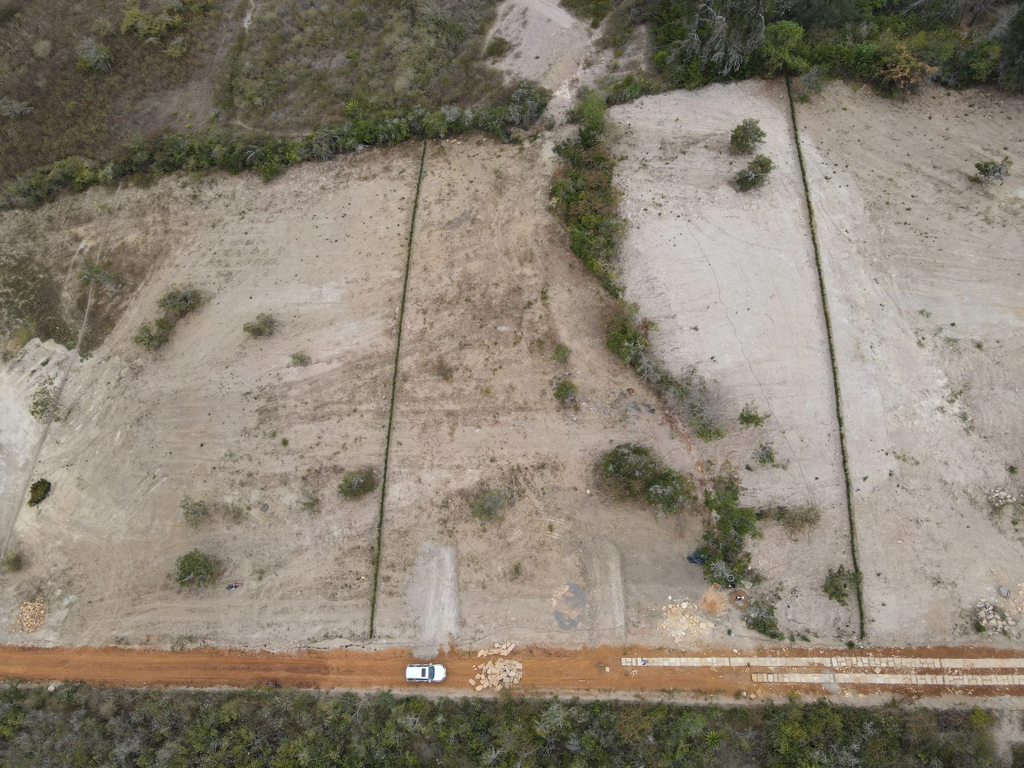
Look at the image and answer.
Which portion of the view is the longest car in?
bottom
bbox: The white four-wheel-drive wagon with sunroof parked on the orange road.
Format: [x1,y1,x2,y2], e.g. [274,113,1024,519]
[404,662,447,684]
